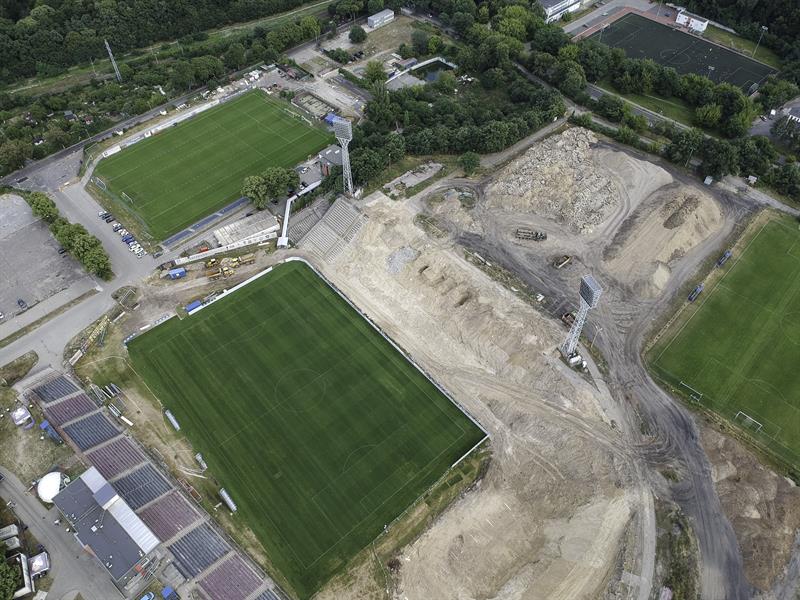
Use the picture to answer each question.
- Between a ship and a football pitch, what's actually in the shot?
football pitch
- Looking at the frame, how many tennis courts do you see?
0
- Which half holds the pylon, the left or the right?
left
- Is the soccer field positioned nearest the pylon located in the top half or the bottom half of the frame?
top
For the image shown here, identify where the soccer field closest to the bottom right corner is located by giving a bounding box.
[649,216,800,474]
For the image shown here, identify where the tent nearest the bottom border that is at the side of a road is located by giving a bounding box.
[28,552,52,577]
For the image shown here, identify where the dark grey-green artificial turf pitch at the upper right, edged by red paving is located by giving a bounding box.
[573,12,778,108]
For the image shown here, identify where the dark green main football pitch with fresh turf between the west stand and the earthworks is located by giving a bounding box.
[126,260,486,600]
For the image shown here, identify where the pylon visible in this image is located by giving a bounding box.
[102,40,122,82]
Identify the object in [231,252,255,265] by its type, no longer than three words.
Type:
vehicle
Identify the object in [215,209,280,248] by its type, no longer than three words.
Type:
shed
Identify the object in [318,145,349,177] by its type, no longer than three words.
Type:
building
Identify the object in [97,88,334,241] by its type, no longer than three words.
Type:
soccer field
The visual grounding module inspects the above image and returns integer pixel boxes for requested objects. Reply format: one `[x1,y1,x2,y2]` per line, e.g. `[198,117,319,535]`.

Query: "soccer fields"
[649,216,800,474]
[126,260,486,600]
[573,12,778,108]
[97,88,334,241]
